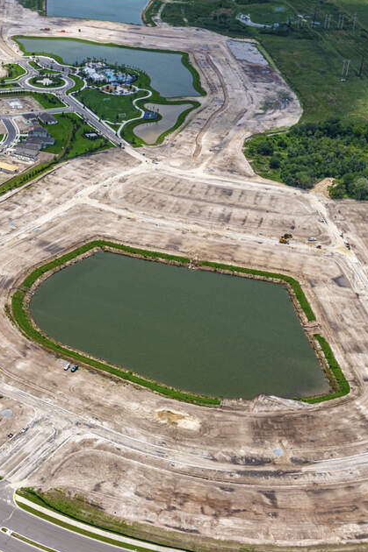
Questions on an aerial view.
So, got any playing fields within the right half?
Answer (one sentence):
No, no playing field can be made out within the right half.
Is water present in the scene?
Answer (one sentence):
Yes, water shows up in the scene.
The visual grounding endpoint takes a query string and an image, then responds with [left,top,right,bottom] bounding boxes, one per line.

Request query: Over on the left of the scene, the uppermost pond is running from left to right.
[44,0,148,24]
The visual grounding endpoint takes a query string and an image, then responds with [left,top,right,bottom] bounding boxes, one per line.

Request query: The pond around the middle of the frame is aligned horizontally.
[30,249,329,401]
